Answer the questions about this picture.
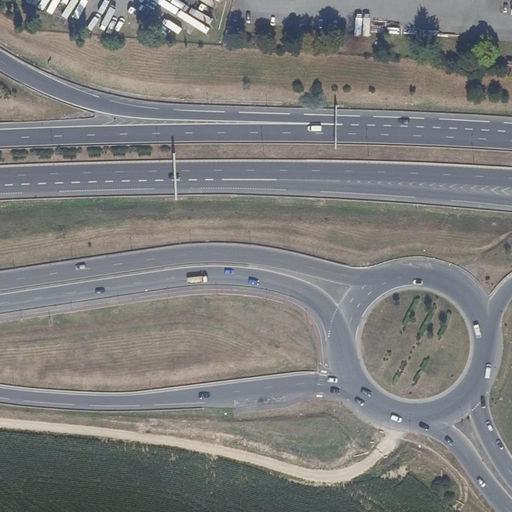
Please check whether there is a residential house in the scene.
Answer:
No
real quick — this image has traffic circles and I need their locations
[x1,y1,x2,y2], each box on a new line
[326,256,504,434]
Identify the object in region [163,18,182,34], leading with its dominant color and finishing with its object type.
white vehicle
